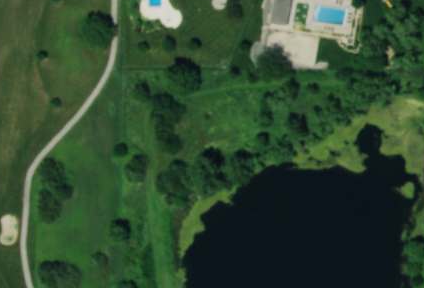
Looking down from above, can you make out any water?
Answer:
Yes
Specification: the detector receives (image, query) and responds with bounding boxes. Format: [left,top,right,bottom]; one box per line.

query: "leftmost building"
[272,0,293,26]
